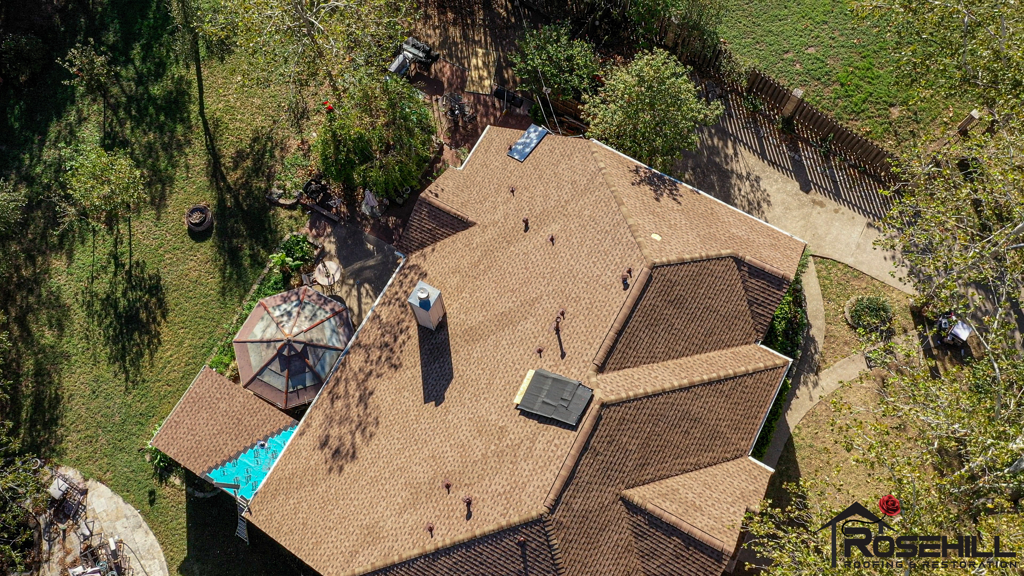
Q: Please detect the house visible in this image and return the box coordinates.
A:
[148,124,808,576]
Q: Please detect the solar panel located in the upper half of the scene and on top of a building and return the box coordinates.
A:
[508,124,549,164]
